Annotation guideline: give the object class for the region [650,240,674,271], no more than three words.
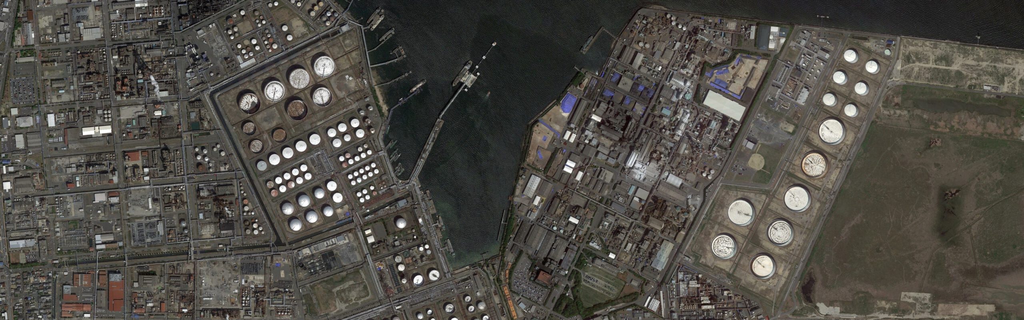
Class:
building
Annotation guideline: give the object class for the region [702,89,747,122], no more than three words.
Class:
building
